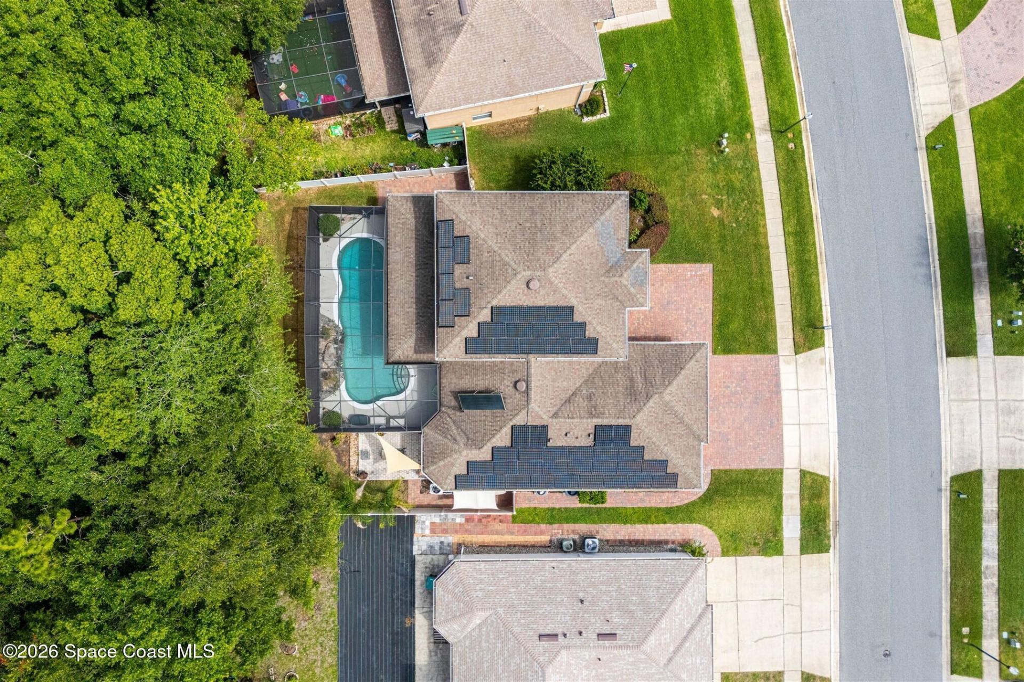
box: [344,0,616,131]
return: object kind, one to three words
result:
house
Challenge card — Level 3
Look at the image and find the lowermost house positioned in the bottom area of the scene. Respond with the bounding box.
[432,554,715,682]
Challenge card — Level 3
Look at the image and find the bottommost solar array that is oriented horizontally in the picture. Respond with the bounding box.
[455,426,681,490]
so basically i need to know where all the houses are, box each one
[432,554,715,682]
[385,190,710,493]
[344,0,616,131]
